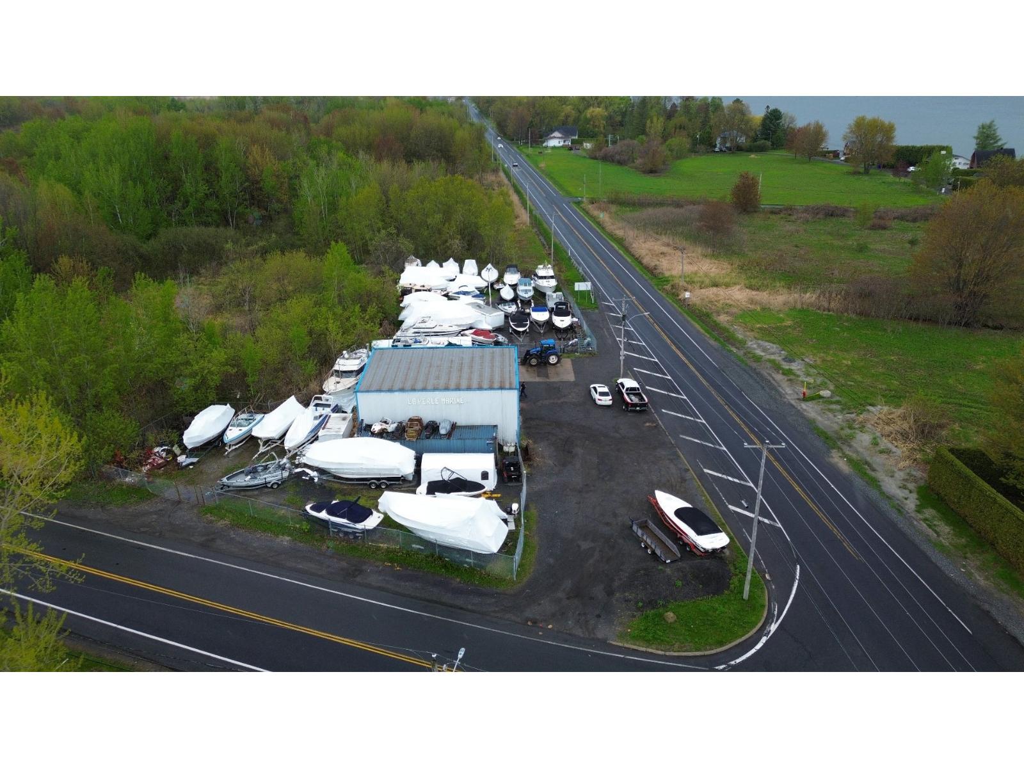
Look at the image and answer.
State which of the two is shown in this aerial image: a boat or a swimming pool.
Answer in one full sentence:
Looking from above, you can make out a boat.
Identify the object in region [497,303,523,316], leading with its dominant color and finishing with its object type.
white boat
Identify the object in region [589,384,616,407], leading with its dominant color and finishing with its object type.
white car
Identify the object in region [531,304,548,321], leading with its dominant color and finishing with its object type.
white boat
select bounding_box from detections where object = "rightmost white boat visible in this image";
[655,491,731,562]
